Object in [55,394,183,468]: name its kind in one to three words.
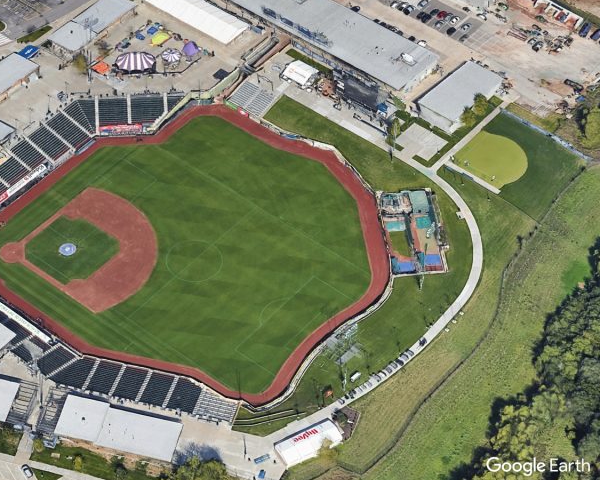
building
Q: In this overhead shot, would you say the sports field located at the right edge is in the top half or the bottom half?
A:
top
